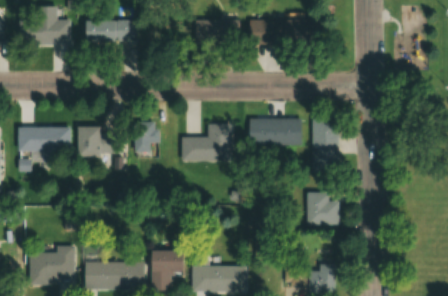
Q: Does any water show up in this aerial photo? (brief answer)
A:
No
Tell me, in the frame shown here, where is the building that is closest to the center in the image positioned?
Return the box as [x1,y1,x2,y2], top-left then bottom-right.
[182,124,232,162]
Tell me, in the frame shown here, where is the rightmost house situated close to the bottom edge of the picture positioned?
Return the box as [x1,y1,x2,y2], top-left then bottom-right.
[309,264,336,294]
